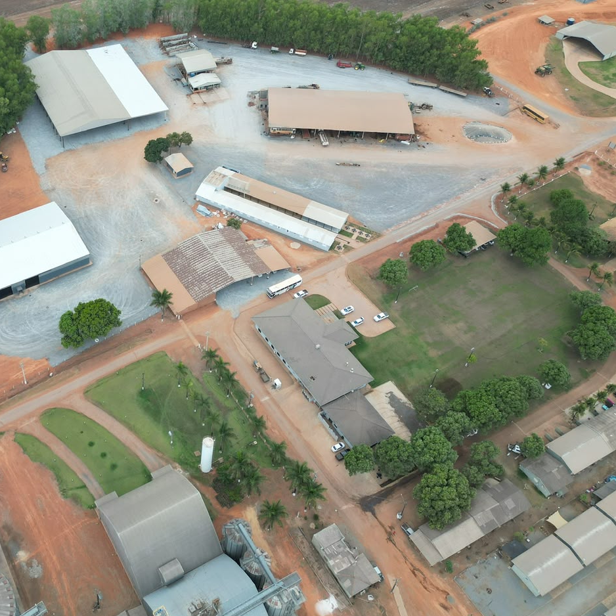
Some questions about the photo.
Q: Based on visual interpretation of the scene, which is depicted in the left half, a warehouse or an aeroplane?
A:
warehouse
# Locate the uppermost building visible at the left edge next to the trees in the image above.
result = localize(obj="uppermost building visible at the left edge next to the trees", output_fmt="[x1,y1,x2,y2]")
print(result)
[30,43,167,147]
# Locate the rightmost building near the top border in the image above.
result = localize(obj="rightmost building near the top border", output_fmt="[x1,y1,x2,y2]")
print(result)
[554,22,616,65]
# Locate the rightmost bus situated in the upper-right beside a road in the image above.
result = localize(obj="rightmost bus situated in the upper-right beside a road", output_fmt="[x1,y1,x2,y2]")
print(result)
[522,102,551,122]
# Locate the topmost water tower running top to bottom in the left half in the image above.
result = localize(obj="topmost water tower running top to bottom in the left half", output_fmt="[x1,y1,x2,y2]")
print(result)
[199,434,218,476]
